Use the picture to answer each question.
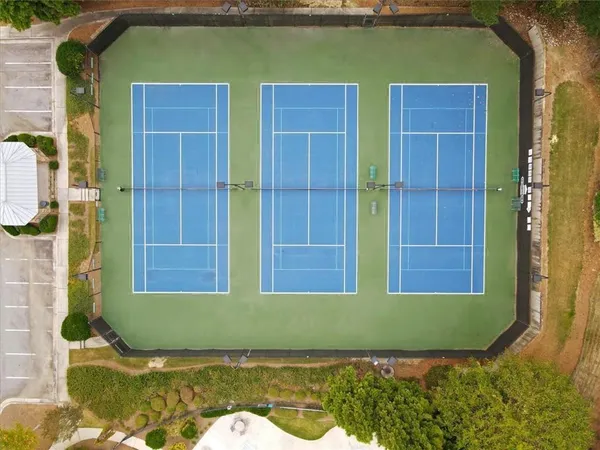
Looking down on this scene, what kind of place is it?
sports ground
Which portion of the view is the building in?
left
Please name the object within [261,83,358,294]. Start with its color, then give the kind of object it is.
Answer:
blue tennis court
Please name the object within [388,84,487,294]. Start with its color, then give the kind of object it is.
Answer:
blue tennis court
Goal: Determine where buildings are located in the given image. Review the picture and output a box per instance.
[0,142,49,226]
